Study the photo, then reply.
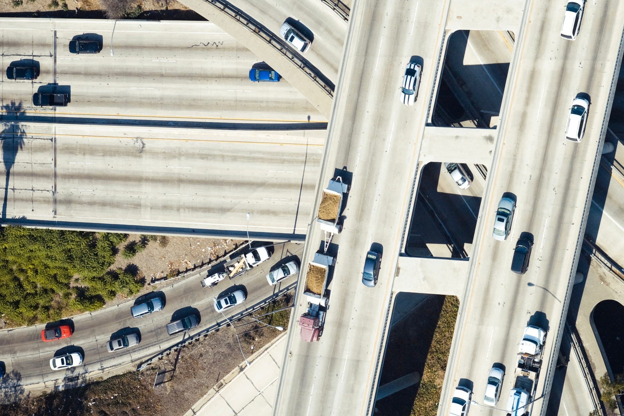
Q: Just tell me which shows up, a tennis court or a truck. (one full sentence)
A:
Of the two, only a truck appears.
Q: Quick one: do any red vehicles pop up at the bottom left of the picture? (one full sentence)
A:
Yes, a red vehicle shows up at the bottom left of the picture.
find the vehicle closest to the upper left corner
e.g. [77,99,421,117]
[7,64,38,81]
